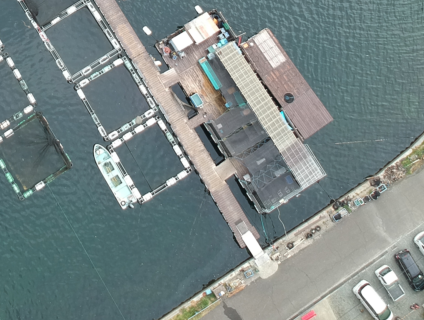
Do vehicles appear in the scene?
Yes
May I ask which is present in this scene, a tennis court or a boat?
boat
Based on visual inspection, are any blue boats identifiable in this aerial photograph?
No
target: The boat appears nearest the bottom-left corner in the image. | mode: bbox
[96,144,136,209]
